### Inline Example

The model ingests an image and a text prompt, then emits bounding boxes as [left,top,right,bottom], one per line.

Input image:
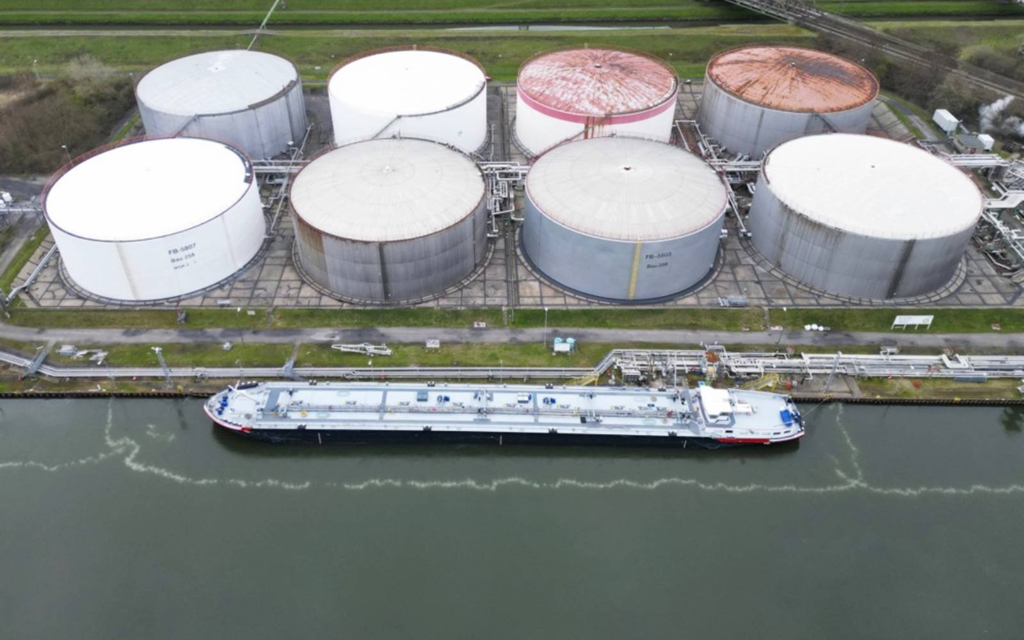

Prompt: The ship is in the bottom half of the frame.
[203,351,803,453]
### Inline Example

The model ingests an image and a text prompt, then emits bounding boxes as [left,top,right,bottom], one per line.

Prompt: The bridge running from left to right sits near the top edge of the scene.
[725,0,812,26]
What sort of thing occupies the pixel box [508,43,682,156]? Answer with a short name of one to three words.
storage tank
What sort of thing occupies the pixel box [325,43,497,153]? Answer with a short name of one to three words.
storage tank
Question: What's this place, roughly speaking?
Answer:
industrial area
